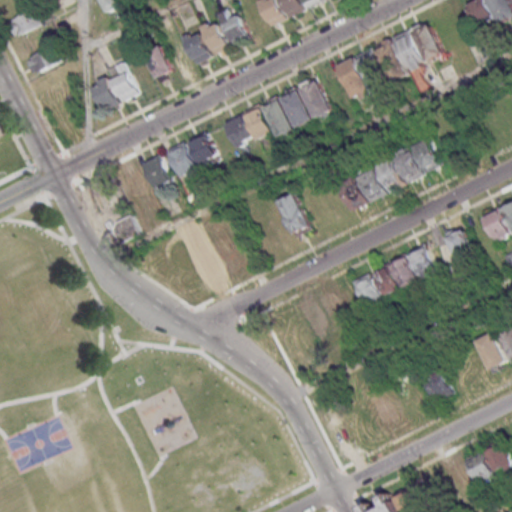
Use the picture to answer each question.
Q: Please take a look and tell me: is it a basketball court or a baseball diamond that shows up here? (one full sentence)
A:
The one in the frame is a basketball court.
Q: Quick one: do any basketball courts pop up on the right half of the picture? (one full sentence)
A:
No, I see no basketball court on the right half of the picture.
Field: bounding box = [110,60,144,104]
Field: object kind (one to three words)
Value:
house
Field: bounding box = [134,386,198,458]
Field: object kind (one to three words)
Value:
playground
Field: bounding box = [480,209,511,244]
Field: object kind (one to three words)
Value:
house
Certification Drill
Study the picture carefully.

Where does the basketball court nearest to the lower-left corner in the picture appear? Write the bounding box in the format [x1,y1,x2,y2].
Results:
[6,416,73,473]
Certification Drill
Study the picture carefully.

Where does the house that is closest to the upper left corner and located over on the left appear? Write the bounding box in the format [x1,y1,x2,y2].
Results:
[8,18,44,38]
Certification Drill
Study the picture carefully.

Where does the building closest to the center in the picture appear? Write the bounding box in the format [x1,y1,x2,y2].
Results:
[274,192,309,236]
